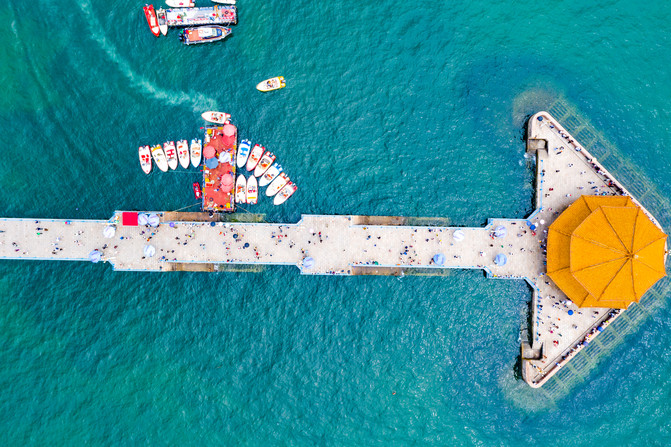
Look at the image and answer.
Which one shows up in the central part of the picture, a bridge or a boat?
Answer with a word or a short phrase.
boat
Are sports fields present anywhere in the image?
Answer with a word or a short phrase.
No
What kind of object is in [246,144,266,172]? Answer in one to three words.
boat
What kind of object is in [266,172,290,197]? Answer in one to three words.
boat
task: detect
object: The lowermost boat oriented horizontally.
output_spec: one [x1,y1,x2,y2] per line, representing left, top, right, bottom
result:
[201,110,233,125]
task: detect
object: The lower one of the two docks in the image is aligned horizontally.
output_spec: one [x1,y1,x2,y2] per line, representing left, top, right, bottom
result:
[0,109,671,389]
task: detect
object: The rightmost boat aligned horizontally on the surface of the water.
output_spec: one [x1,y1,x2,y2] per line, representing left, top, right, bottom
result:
[256,77,287,92]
